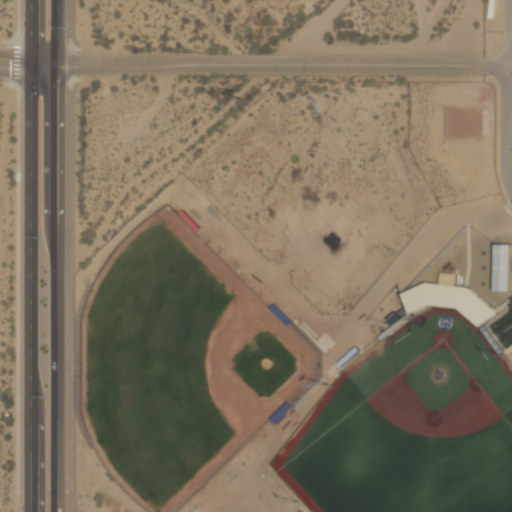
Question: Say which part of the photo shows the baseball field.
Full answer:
Look in the bottom right portion of the view to spot the baseball field.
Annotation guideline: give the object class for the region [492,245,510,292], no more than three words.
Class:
building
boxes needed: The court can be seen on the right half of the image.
[442,105,483,140]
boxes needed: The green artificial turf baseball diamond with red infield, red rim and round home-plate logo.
[272,307,512,512]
